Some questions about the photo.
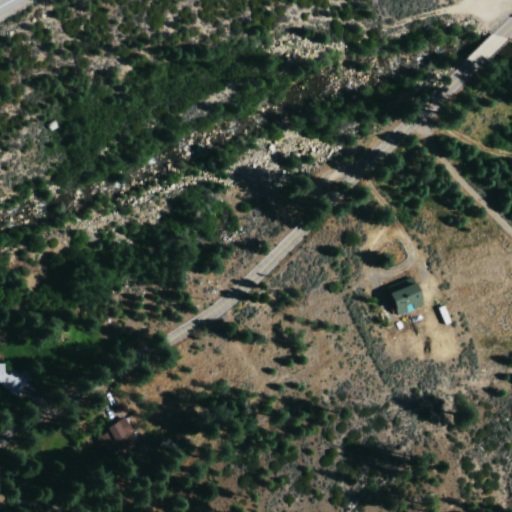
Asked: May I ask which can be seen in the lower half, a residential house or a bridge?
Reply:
residential house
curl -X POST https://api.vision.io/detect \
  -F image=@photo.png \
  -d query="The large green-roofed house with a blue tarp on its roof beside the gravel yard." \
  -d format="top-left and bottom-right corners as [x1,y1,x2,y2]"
[392,280,426,314]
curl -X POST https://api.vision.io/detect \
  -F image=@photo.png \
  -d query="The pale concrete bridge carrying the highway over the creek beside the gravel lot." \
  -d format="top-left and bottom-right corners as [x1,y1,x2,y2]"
[470,27,510,70]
